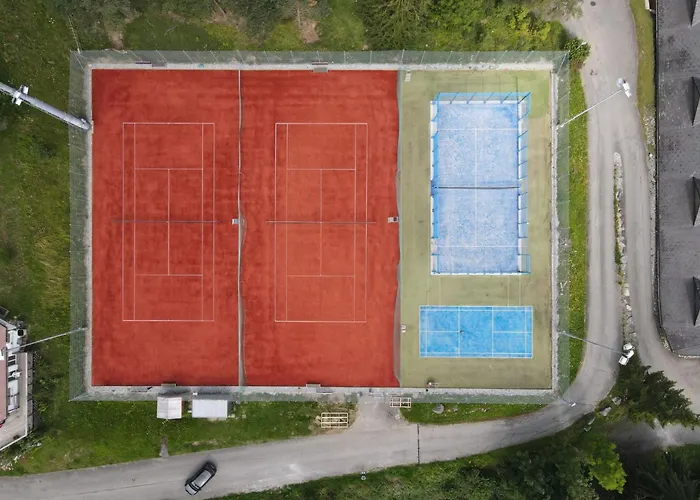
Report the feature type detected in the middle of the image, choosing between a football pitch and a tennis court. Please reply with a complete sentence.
There is a tennis court in the middle of the image.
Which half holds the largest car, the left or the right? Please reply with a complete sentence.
It is on the left.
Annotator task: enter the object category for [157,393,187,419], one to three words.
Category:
shed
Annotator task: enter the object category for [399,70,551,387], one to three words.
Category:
sports court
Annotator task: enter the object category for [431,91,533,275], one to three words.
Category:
sports court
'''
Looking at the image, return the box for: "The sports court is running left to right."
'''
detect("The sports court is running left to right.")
[420,306,533,358]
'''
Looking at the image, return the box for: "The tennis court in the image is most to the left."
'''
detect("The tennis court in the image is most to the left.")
[92,70,241,387]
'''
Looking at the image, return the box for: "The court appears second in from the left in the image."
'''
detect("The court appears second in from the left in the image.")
[241,70,399,387]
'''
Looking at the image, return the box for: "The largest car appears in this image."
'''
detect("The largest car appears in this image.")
[185,460,218,495]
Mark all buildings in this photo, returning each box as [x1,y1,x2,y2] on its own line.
[157,393,187,419]
[191,395,231,418]
[0,317,36,449]
[655,0,700,358]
